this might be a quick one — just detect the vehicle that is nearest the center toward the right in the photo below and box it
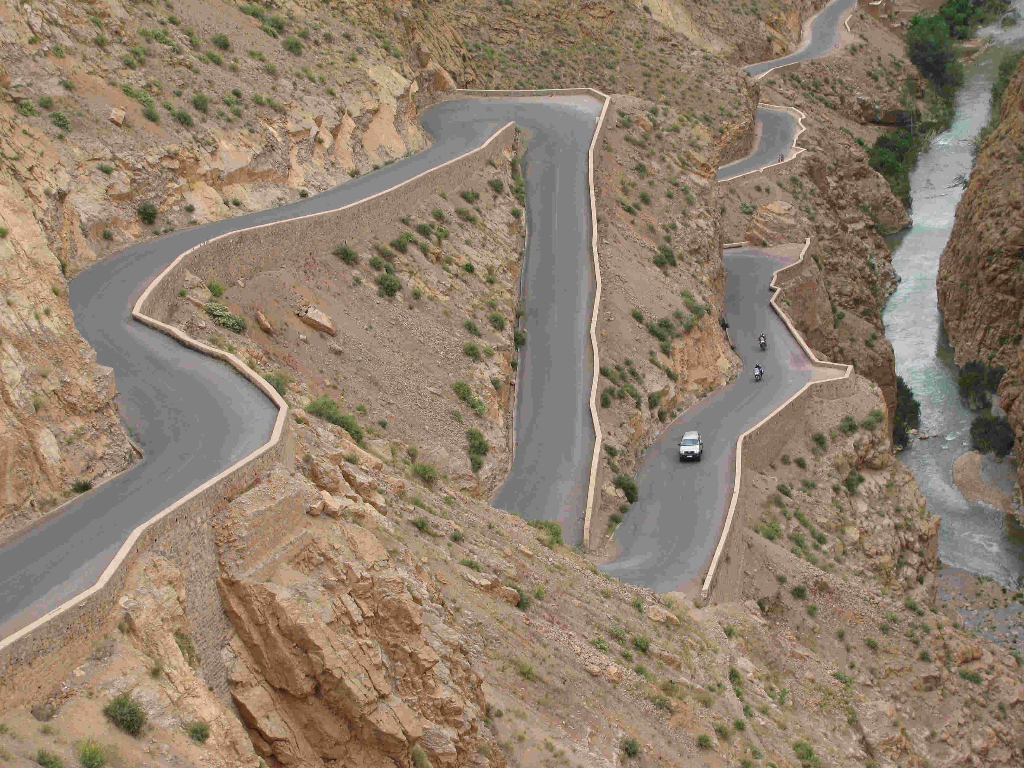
[677,426,703,460]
